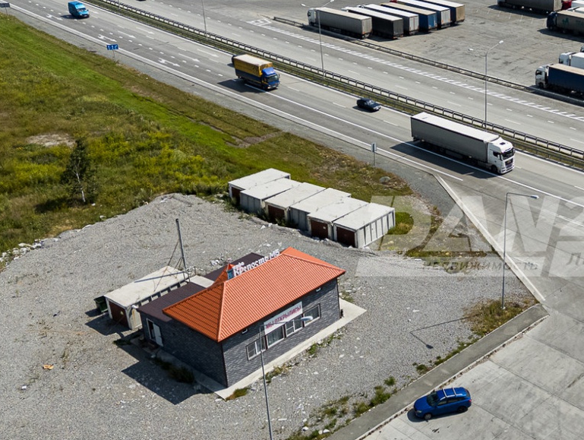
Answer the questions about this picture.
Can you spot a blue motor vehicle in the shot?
Yes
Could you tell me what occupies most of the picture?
paved ground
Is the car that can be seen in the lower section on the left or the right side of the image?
right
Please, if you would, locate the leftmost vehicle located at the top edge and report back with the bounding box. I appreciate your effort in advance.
[65,0,88,18]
